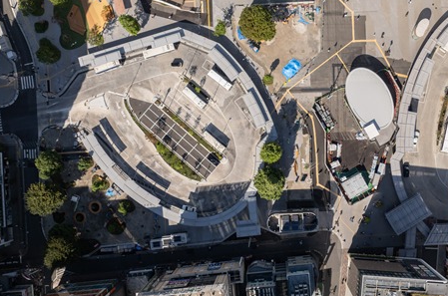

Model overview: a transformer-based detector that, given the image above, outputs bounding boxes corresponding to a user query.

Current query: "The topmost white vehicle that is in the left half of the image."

[144,43,177,62]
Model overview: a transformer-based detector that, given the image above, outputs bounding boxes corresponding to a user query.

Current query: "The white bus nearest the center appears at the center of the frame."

[201,131,229,157]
